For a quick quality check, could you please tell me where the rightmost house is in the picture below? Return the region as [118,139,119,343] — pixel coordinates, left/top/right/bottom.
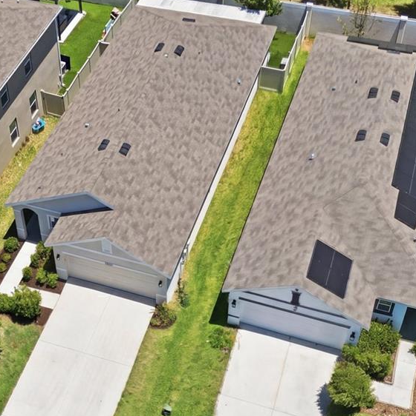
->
[221,32,416,355]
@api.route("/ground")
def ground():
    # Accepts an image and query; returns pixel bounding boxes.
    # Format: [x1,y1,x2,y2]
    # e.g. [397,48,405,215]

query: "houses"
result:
[6,5,280,308]
[221,32,416,355]
[0,0,67,173]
